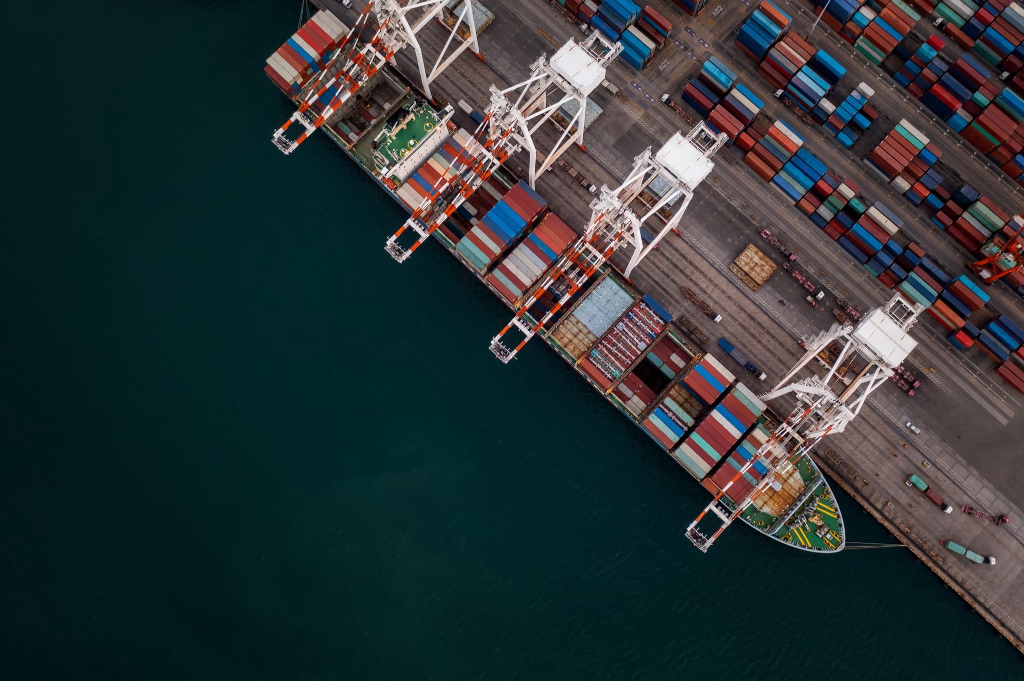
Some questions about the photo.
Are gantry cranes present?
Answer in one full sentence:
Yes, the picture does show a gantry crane.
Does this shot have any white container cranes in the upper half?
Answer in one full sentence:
Yes, a white container crane shows up in the upper half.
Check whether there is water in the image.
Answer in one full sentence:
Yes, water can be seen from above here.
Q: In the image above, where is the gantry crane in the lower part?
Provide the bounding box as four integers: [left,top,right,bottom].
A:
[683,288,935,556]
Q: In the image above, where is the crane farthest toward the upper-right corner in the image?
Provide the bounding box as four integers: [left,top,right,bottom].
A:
[973,242,1024,289]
